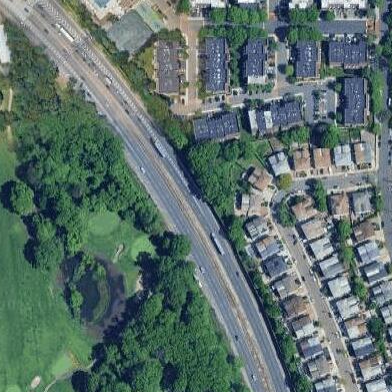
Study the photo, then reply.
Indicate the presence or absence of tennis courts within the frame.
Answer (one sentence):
Yes, there's a tennis court here.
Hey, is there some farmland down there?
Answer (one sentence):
No, the scene doesn't show any farmland.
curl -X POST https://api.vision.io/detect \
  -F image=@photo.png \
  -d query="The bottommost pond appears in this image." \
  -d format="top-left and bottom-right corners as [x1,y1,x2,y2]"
[65,255,123,329]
